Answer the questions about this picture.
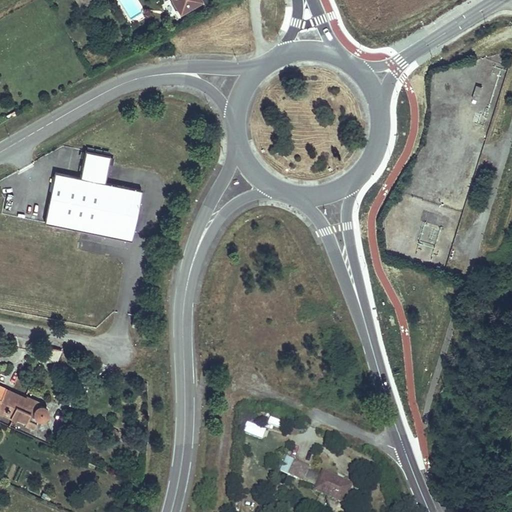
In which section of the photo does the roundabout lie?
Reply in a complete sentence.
Look in the top portion of the view to spot the roundabout.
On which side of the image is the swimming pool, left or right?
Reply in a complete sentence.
You can find the swimming pool on the left side of the picture.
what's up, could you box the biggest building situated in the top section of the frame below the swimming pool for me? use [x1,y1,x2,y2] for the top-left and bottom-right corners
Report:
[45,153,142,242]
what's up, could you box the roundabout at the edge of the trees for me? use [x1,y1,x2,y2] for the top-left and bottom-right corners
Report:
[224,40,390,207]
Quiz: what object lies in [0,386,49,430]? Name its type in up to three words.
house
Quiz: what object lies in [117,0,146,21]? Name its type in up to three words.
swimming pool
